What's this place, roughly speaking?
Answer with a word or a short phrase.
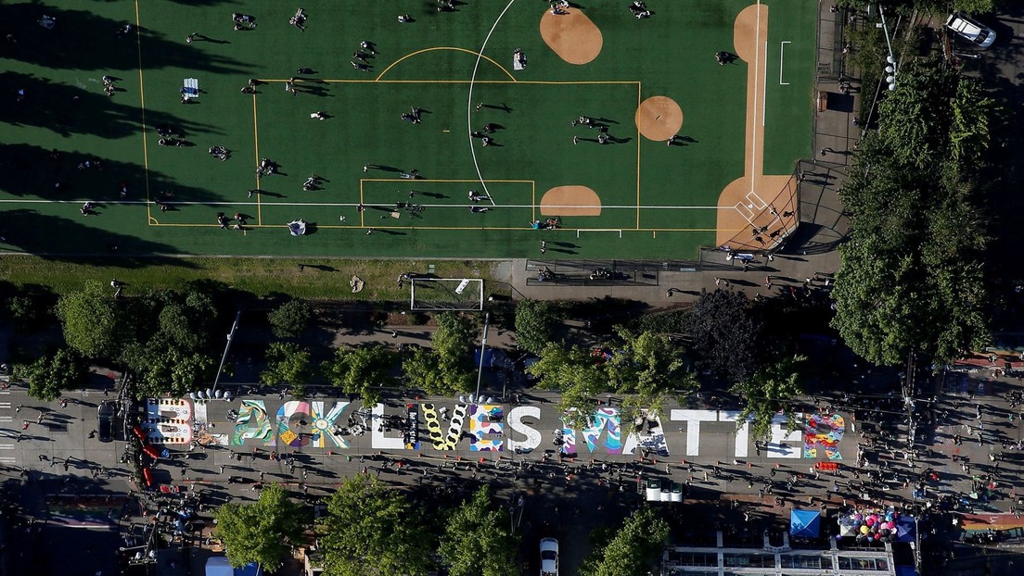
sports ground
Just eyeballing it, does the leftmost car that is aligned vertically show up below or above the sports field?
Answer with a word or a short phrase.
below it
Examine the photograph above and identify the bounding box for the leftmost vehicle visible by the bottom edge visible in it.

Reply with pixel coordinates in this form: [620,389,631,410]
[538,540,560,576]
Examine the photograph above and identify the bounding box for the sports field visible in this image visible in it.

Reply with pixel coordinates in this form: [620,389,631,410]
[0,0,819,262]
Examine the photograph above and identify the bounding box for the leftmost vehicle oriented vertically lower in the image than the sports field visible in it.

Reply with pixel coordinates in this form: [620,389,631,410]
[95,401,116,443]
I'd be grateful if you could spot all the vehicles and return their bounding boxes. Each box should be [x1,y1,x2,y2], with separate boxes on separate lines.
[538,540,560,576]
[947,14,997,47]
[95,401,116,443]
